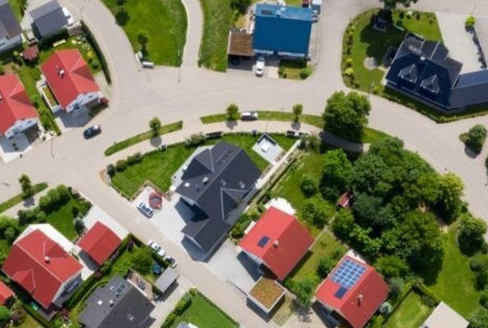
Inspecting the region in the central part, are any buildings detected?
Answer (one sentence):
Yes, looking in the central part, one can make out a building.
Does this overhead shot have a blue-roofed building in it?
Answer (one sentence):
Yes, this view includes a blue-roofed building.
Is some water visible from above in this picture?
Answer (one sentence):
No, there's no water in this view.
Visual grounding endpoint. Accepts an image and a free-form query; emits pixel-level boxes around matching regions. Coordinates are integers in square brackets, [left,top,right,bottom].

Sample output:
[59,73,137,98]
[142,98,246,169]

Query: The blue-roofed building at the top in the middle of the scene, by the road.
[254,4,313,66]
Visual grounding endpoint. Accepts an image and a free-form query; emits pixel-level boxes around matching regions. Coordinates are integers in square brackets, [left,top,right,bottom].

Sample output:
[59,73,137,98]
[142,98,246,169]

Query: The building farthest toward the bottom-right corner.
[425,305,469,328]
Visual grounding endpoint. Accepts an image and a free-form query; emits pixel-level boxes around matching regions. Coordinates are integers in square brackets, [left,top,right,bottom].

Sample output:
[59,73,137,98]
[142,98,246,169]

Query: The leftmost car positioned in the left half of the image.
[83,126,101,138]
